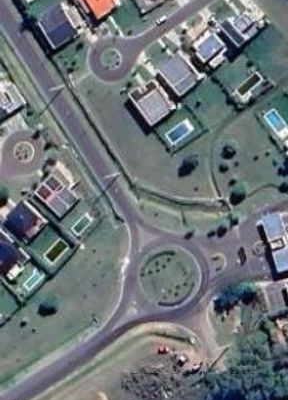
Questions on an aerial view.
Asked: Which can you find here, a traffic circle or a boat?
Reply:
traffic circle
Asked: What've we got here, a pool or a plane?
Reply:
pool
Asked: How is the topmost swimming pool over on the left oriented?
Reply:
at an angle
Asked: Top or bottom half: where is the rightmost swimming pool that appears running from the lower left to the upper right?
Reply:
top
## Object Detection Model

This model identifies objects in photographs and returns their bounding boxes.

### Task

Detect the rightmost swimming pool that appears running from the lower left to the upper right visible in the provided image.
[235,71,264,97]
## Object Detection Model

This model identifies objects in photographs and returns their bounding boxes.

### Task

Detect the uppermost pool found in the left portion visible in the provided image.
[72,212,94,236]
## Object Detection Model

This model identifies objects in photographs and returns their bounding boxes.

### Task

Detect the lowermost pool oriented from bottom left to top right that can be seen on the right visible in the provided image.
[165,119,195,146]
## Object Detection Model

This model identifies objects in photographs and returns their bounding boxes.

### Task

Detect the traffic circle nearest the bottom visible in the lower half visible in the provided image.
[126,234,211,318]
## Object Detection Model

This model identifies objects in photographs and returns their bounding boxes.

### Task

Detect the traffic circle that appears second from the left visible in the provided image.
[89,37,132,81]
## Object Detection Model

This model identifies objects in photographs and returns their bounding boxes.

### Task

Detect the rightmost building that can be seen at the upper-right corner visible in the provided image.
[218,13,270,47]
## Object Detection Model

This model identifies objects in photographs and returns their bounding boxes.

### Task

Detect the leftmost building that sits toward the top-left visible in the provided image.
[0,80,31,116]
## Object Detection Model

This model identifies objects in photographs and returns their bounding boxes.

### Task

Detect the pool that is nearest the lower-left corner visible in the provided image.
[25,274,44,290]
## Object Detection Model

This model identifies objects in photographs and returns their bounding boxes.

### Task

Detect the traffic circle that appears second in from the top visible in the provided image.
[1,130,44,175]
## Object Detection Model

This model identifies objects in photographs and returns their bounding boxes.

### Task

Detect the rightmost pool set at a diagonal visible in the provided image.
[264,110,288,139]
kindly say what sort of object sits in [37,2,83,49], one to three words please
house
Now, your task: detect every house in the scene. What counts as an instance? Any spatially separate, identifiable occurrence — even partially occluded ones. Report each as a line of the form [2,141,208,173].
[4,200,52,243]
[218,13,270,47]
[0,80,31,116]
[194,30,230,68]
[128,78,182,126]
[84,0,121,20]
[0,239,27,280]
[37,2,83,49]
[159,53,199,95]
[35,175,84,216]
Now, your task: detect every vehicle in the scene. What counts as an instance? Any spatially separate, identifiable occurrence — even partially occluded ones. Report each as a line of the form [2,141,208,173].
[186,366,196,373]
[156,346,168,353]
[176,355,187,364]
[156,16,165,24]
[238,249,245,261]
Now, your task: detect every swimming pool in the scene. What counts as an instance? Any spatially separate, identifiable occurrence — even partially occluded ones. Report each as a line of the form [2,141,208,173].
[44,239,69,263]
[25,274,44,290]
[264,110,288,139]
[235,71,264,97]
[72,212,94,236]
[165,119,195,146]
